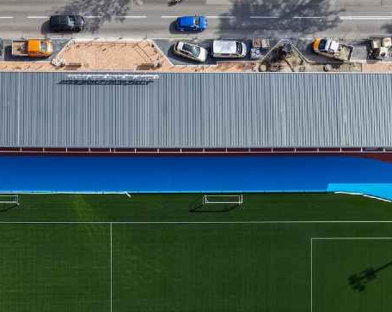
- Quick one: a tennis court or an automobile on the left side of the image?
automobile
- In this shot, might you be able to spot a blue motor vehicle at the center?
No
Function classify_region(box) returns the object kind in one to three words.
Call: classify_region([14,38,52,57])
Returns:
vehicle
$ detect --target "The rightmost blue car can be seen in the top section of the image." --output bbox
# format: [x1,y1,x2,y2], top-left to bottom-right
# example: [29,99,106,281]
[176,16,206,33]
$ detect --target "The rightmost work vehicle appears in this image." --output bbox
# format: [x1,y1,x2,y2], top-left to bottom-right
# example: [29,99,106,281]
[368,39,390,59]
